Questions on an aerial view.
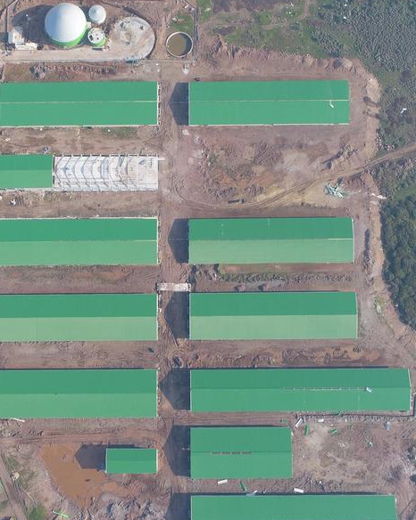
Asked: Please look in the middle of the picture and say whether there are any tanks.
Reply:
No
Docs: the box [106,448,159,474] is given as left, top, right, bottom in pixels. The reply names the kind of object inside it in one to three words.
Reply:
shed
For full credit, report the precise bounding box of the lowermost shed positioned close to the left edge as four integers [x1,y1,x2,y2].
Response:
[0,369,161,419]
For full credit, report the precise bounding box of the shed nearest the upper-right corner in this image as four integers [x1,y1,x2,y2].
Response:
[188,80,350,128]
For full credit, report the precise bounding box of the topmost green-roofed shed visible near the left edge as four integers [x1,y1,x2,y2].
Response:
[0,81,161,129]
